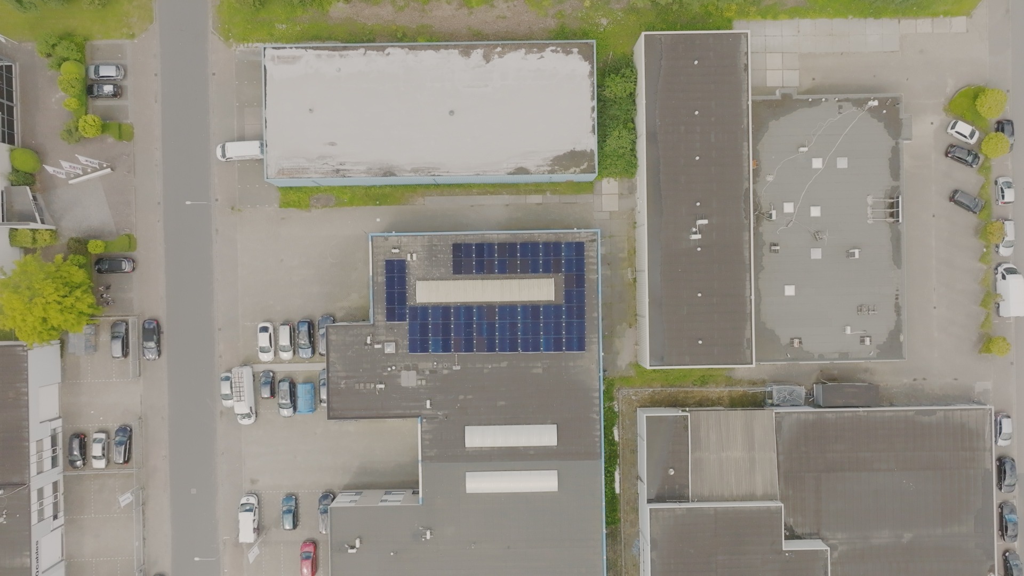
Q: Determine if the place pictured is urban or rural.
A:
urban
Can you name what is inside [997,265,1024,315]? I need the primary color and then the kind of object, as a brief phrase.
white vehicle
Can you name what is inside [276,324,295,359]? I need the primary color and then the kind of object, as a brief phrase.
white car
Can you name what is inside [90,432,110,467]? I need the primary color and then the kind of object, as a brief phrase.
white car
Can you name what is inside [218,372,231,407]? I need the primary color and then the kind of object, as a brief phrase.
white vehicle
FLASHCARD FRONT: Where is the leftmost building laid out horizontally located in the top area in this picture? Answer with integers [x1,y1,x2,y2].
[262,40,598,187]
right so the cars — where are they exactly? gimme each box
[90,432,110,467]
[67,433,88,467]
[89,63,127,82]
[944,144,980,169]
[295,320,314,358]
[314,317,333,355]
[316,493,335,534]
[141,320,162,359]
[995,455,1017,493]
[276,324,295,359]
[298,541,317,576]
[109,321,130,359]
[993,176,1014,206]
[993,412,1013,445]
[1002,549,1024,576]
[277,378,297,416]
[259,371,276,399]
[991,118,1014,147]
[947,190,983,214]
[97,256,136,274]
[944,120,979,145]
[256,323,275,361]
[996,502,1018,543]
[280,494,299,530]
[112,425,133,464]
[994,219,1016,256]
[218,372,231,407]
[88,81,124,99]
[314,370,326,407]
